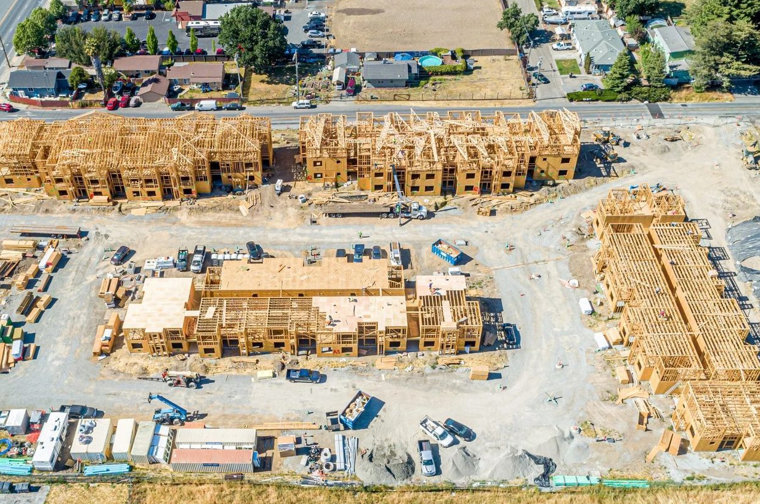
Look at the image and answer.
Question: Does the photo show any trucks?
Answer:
Yes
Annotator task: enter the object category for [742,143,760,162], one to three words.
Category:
work vehicle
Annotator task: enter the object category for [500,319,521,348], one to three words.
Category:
vehicle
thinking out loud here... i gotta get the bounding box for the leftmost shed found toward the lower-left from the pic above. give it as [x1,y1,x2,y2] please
[0,403,32,438]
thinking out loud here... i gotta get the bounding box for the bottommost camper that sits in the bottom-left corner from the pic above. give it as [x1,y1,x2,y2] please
[23,410,76,473]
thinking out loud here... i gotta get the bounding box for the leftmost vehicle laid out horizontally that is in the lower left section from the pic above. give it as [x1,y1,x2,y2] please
[62,402,100,418]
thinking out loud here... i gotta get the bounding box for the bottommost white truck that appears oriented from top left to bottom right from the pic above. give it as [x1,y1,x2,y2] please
[419,414,456,446]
